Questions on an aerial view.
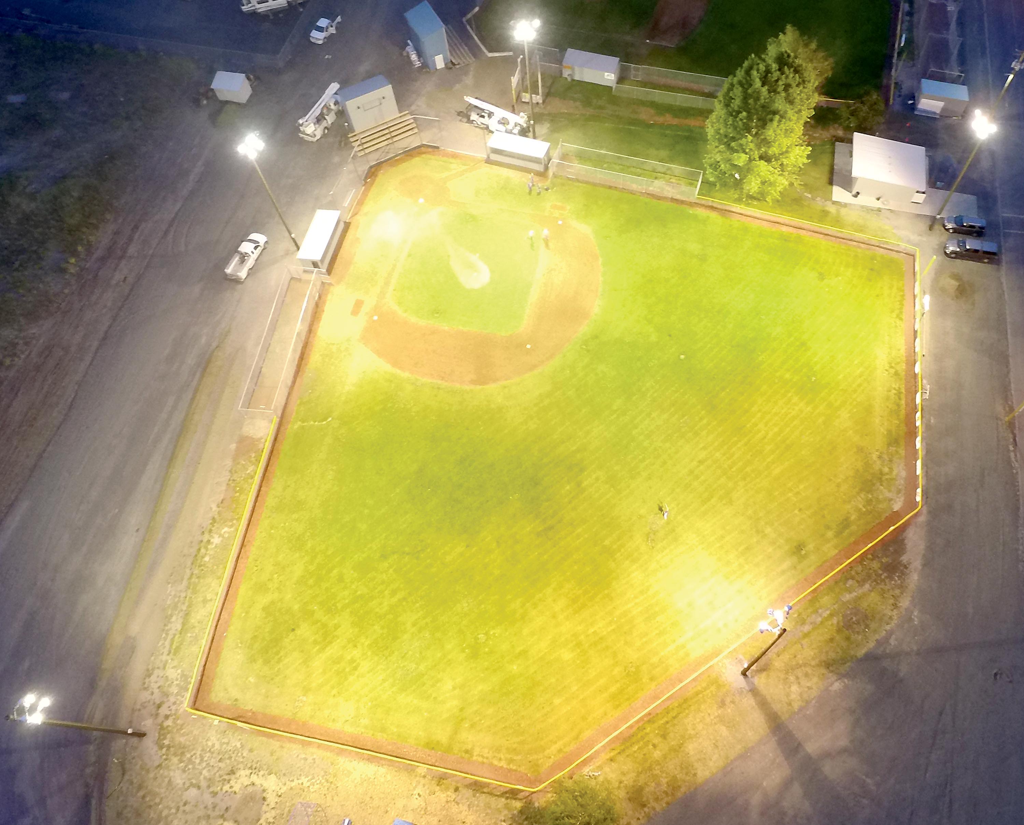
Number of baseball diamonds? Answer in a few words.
1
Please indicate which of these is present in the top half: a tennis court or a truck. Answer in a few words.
truck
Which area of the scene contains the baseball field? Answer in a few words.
center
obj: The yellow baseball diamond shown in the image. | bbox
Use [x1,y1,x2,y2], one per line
[195,145,916,788]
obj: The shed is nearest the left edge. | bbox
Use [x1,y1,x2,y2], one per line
[212,69,253,102]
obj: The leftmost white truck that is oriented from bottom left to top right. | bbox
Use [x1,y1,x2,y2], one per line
[221,230,271,279]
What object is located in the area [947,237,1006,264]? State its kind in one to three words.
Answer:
truck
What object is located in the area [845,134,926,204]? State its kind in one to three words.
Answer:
building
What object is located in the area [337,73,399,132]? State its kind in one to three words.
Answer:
building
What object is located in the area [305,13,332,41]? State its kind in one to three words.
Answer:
car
